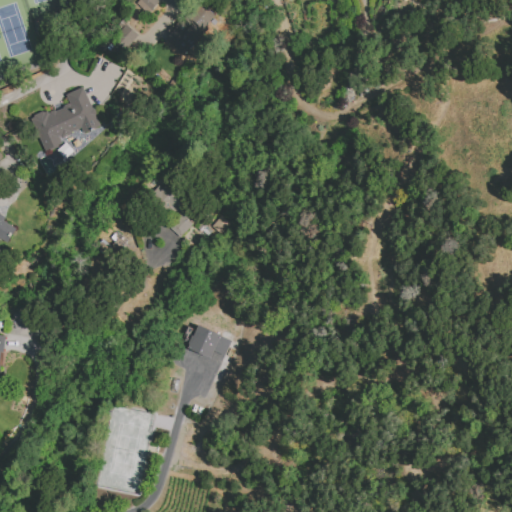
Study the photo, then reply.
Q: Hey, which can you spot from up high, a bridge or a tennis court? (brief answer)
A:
tennis court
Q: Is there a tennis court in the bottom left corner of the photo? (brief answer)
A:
Yes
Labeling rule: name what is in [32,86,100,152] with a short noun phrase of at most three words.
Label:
house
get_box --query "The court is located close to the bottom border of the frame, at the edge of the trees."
[98,408,152,496]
